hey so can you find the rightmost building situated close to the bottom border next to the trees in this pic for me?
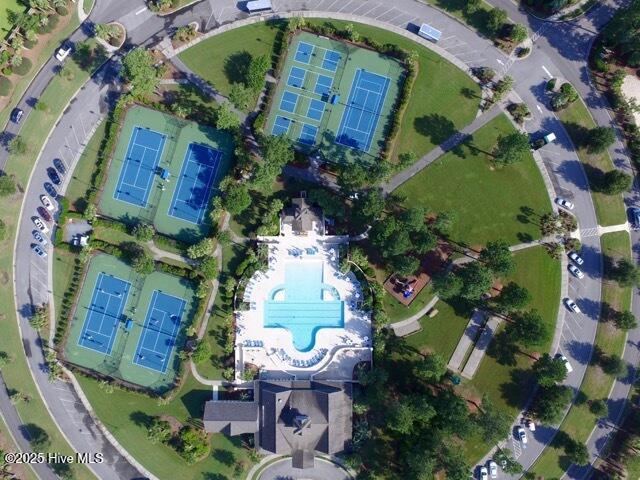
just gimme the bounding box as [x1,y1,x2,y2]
[254,377,352,471]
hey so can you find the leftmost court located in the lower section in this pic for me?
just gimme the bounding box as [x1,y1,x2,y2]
[62,251,142,375]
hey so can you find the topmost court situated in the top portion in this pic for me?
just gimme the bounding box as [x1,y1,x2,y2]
[286,31,351,78]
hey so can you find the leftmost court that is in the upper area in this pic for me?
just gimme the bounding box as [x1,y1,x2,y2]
[98,104,176,226]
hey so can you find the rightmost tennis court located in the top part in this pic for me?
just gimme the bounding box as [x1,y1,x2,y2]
[321,45,406,162]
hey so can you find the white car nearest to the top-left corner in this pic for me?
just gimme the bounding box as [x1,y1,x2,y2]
[56,46,72,62]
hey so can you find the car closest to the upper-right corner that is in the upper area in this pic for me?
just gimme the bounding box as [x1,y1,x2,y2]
[536,133,554,146]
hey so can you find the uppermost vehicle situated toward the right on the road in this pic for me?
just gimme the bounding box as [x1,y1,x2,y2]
[418,23,440,43]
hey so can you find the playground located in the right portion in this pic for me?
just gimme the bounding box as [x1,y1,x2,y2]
[384,269,431,307]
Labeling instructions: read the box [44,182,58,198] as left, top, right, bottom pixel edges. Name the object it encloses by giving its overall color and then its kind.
blue vehicle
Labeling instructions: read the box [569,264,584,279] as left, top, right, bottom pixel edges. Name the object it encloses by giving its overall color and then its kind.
white car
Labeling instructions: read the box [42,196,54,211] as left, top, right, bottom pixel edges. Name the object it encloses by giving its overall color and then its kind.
white vehicle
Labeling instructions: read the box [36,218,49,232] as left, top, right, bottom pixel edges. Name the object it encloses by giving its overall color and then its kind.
white vehicle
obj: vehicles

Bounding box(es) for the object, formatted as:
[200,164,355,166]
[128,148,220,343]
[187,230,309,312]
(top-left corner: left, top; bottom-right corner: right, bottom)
[527,418,536,433]
[558,354,571,369]
[36,218,49,232]
[569,252,584,266]
[557,198,572,209]
[56,46,72,62]
[39,207,51,222]
[44,182,58,198]
[566,299,579,313]
[536,133,554,146]
[418,23,440,43]
[569,264,584,279]
[632,209,640,224]
[489,461,497,477]
[479,466,488,480]
[518,428,527,444]
[55,159,66,174]
[49,168,61,184]
[14,107,25,122]
[42,196,54,211]
[247,0,272,12]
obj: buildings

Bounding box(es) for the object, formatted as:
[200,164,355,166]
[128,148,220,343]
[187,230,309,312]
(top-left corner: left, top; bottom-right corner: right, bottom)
[254,377,352,471]
[284,193,321,232]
